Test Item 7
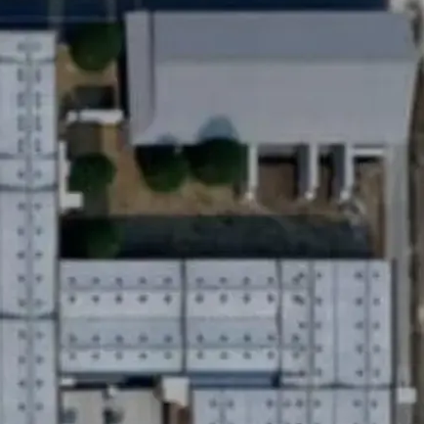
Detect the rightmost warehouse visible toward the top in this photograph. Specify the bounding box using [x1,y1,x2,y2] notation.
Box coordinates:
[118,11,413,198]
